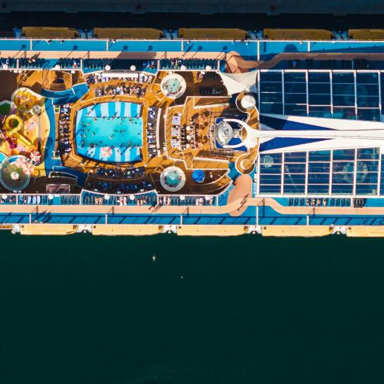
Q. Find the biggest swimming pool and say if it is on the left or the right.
left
